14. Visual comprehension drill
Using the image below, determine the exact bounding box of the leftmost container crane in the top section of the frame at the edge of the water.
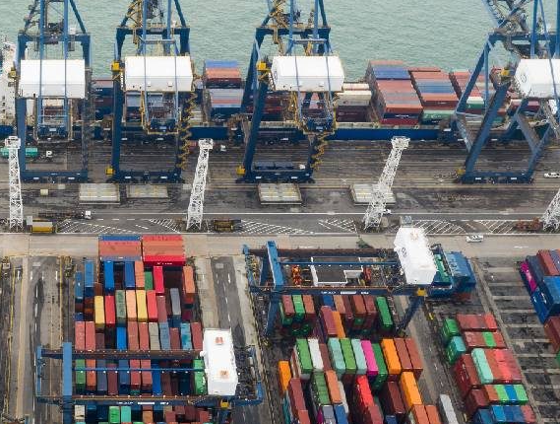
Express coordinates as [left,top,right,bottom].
[7,0,100,180]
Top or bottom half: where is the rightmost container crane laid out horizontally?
bottom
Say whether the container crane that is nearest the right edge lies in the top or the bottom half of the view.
top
